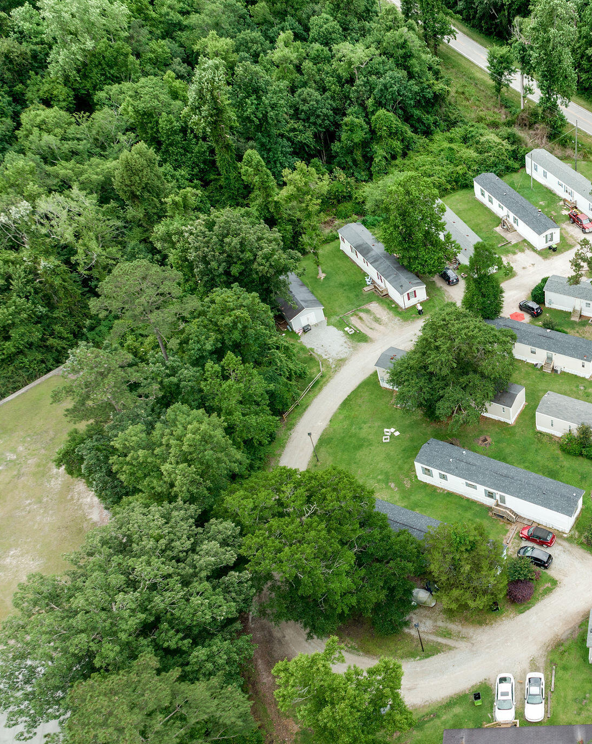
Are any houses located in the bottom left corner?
No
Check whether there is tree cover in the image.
Yes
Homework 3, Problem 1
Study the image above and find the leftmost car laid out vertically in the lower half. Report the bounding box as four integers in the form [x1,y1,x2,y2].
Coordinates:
[495,676,515,722]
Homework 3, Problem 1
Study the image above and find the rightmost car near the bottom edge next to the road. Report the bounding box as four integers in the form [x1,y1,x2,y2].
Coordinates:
[524,676,544,721]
